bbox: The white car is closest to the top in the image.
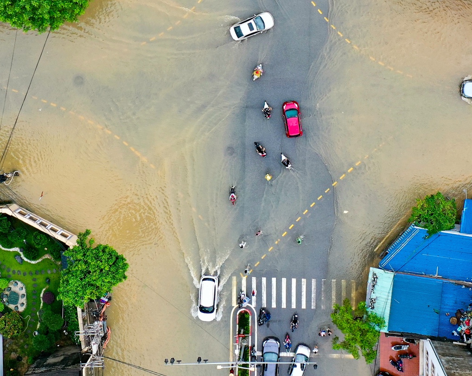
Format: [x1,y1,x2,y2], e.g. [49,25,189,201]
[228,10,276,41]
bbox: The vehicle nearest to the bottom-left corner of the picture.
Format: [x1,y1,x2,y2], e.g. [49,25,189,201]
[197,273,219,320]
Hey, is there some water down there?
Yes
